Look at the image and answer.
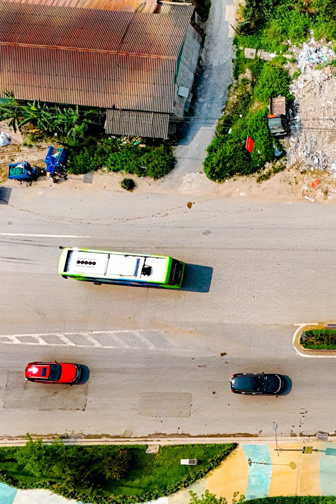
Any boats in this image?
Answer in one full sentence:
No, the frame has no boat in it.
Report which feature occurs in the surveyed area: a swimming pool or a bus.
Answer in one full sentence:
Of the two, only a bus appears.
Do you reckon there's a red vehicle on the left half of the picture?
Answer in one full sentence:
Yes, the scene does show a red vehicle on the left half of the picture.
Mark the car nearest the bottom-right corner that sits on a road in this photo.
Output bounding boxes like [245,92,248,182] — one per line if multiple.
[228,370,286,397]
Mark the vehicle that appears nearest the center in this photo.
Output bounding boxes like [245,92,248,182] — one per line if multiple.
[55,247,189,293]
